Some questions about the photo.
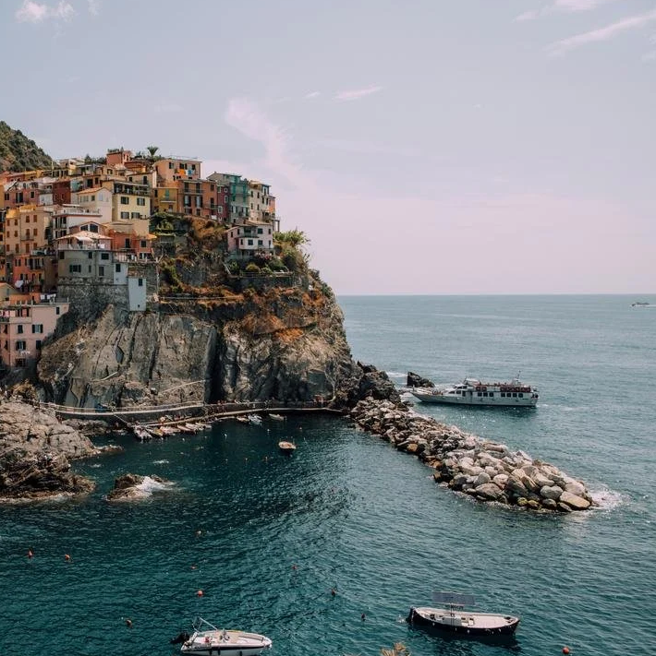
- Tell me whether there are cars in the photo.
No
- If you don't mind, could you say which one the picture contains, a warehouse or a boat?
boat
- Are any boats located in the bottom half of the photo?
Yes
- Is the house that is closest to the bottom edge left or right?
left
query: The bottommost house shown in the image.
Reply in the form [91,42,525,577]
[0,300,69,373]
